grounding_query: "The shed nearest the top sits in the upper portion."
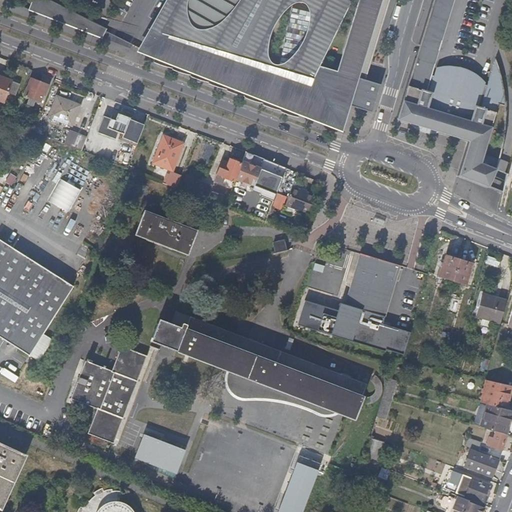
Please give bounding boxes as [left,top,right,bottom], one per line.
[29,0,108,38]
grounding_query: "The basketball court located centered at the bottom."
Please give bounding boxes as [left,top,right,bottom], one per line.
[187,424,296,512]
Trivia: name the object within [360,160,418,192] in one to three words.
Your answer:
roundabout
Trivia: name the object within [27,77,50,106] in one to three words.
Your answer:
house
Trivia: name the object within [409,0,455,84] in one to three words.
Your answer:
building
